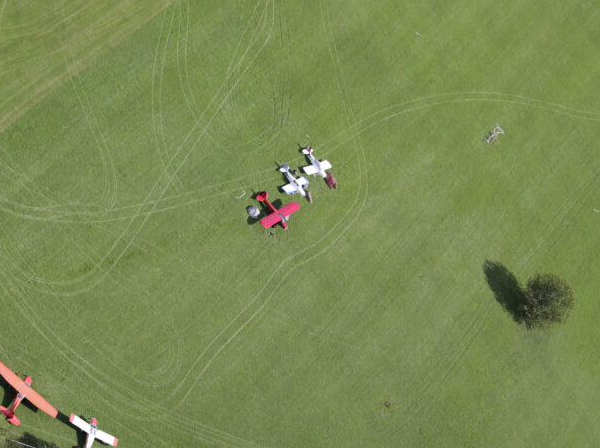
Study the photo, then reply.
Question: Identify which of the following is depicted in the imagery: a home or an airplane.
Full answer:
The one in the frame is an airplane.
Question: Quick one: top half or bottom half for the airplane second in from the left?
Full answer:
The bottom half of the photo is where the airplane second in from the left is.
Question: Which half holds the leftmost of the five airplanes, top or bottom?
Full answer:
Seen from above, the leftmost of the five airplanes lies in the bottom half of the view.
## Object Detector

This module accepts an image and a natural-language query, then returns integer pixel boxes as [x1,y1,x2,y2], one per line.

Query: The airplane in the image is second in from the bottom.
[0,361,59,423]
